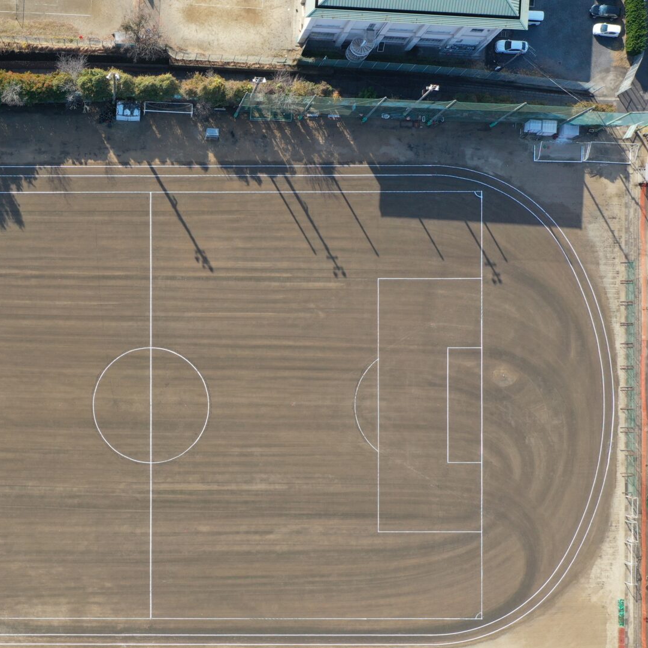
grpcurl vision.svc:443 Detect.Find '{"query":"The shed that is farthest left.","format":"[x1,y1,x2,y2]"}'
[115,97,140,121]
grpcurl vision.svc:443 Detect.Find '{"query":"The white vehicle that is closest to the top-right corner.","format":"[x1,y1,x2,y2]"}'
[593,21,622,37]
